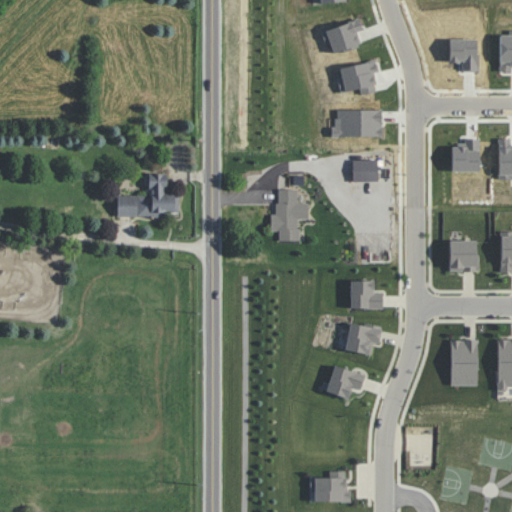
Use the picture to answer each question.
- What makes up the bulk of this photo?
grass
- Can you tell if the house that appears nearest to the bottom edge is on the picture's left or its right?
right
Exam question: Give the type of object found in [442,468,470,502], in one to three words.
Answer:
basketball court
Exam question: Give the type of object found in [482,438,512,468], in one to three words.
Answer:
basketball court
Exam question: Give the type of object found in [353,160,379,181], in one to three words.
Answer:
building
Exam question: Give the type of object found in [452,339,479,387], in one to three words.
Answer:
house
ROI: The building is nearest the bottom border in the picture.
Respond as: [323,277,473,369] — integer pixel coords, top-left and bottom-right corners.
[315,472,351,504]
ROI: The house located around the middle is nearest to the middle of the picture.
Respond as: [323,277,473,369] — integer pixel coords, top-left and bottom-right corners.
[272,190,309,242]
